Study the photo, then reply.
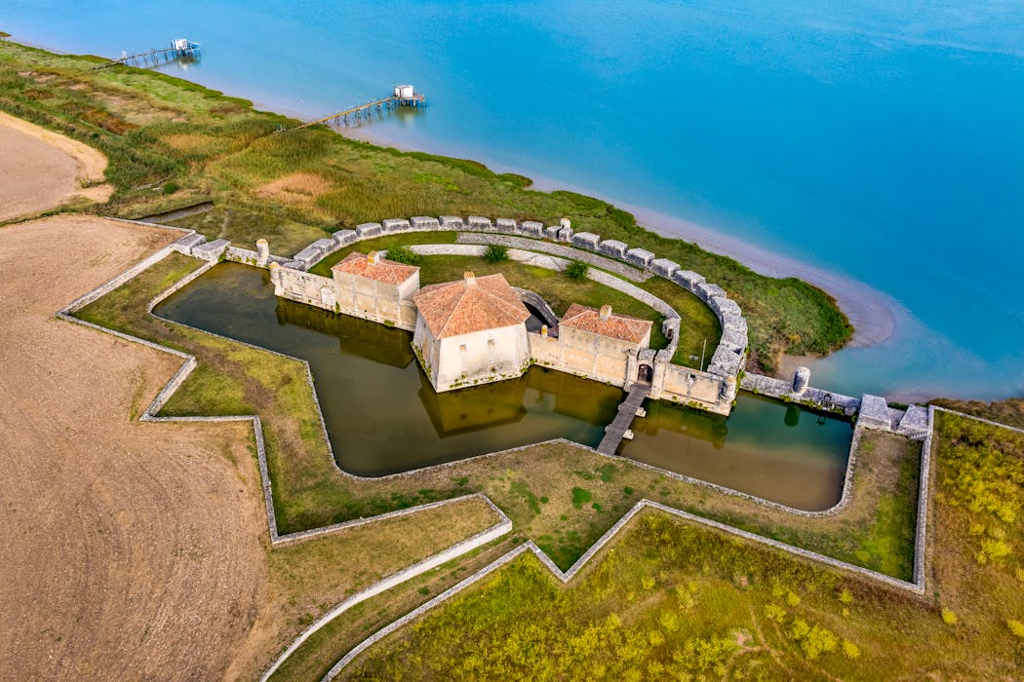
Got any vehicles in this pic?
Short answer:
No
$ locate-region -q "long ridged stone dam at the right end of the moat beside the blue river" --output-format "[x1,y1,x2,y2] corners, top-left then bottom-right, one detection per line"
[745,373,862,418]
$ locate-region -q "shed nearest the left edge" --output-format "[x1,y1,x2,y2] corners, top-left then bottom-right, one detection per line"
[170,31,204,63]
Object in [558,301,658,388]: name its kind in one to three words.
house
